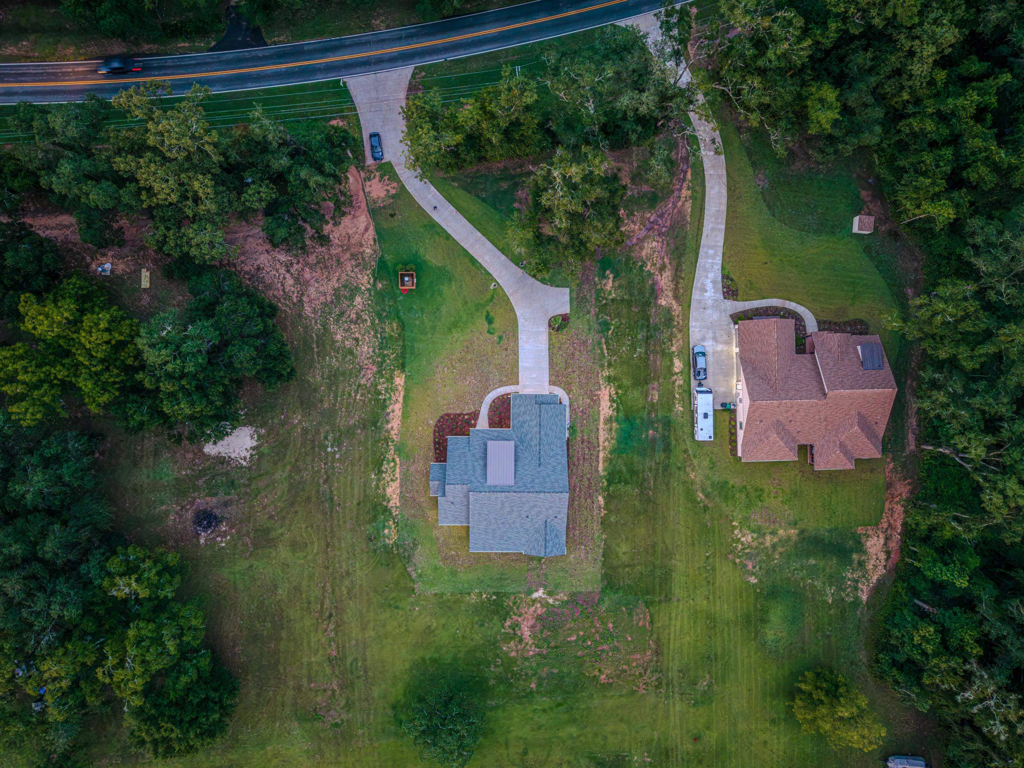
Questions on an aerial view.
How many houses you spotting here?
2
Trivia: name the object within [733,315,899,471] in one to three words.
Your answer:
house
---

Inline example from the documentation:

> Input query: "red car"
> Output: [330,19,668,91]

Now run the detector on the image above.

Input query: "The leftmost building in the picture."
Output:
[429,394,569,557]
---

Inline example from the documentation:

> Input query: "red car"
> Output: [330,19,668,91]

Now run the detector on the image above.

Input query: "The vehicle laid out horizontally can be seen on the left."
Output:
[102,58,139,74]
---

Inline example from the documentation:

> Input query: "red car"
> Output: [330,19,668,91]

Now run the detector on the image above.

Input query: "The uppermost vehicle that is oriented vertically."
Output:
[370,131,385,162]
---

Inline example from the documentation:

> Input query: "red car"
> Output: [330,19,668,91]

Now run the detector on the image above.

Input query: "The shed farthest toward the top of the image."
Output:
[852,214,875,233]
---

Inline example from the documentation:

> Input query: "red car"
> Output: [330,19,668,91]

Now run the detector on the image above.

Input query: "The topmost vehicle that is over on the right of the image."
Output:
[692,345,707,381]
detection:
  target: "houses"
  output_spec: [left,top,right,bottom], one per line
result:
[429,394,569,557]
[733,315,899,471]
